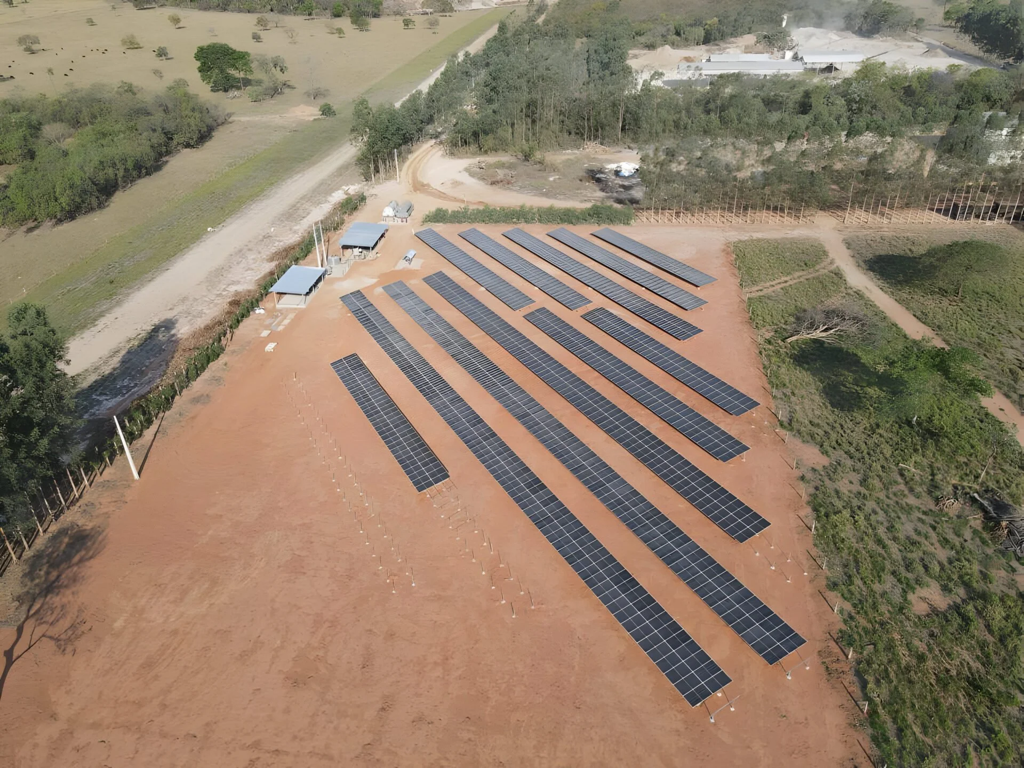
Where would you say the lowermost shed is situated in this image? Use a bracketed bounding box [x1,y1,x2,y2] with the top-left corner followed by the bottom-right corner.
[269,266,327,307]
